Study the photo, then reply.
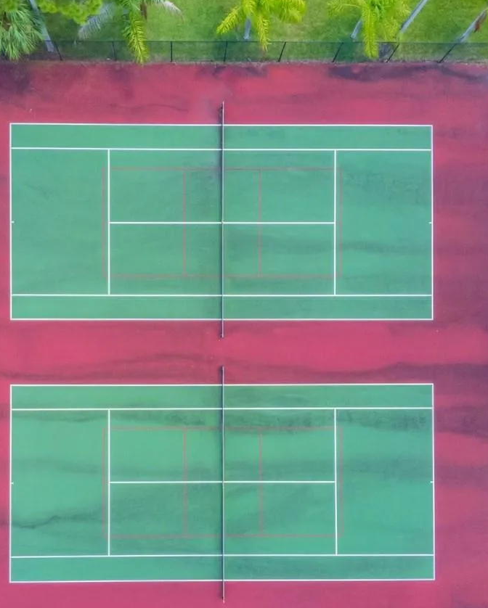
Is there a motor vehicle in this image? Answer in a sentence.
No, I find no motor vehicle anywhere in the image.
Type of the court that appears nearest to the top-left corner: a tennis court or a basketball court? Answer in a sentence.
What you see as the court that appears nearest to the top-left corner is a tennis court.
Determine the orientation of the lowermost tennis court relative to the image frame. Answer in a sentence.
From this overhead view, the lowermost tennis court appears to run from left to right.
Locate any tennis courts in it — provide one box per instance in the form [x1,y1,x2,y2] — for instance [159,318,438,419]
[9,385,435,582]
[9,124,434,320]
